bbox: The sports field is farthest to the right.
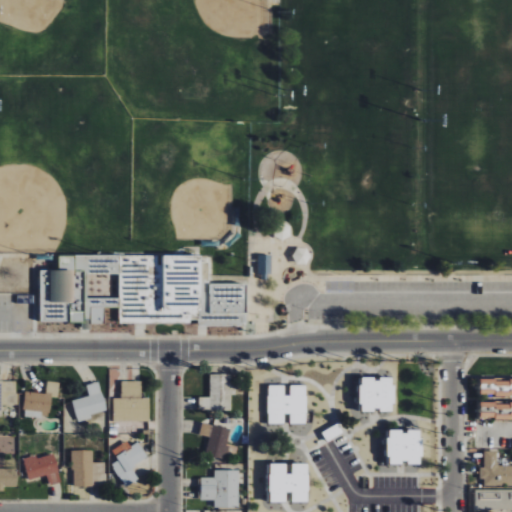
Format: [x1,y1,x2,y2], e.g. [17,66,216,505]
[420,0,512,270]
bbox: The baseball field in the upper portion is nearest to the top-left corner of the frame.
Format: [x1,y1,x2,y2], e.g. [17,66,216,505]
[0,0,106,76]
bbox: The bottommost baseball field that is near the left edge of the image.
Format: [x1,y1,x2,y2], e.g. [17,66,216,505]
[0,76,132,254]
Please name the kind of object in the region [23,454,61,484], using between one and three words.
house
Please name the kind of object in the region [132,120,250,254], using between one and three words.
baseball field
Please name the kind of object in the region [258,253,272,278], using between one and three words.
building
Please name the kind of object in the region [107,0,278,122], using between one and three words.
baseball field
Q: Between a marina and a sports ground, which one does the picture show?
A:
sports ground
